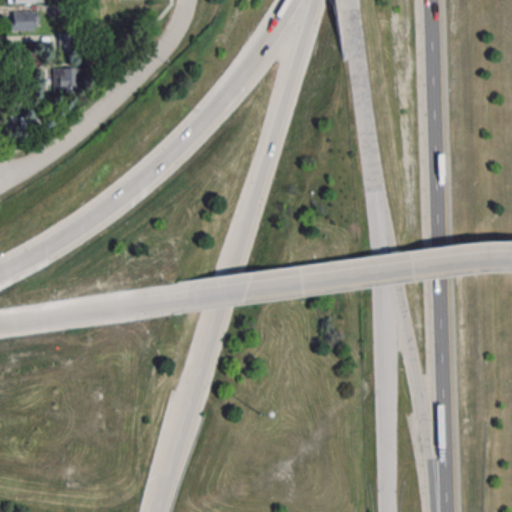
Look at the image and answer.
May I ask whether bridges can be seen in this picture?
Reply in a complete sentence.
Yes, there is a bridge in the image.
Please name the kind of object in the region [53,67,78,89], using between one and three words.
house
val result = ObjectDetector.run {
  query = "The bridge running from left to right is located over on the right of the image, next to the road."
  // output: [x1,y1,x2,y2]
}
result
[178,241,512,313]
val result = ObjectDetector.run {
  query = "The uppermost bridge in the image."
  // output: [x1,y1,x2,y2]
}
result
[336,0,367,61]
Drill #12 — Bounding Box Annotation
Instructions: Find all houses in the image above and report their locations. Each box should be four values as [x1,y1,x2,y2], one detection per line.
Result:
[15,0,45,8]
[53,67,78,89]
[14,11,40,32]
